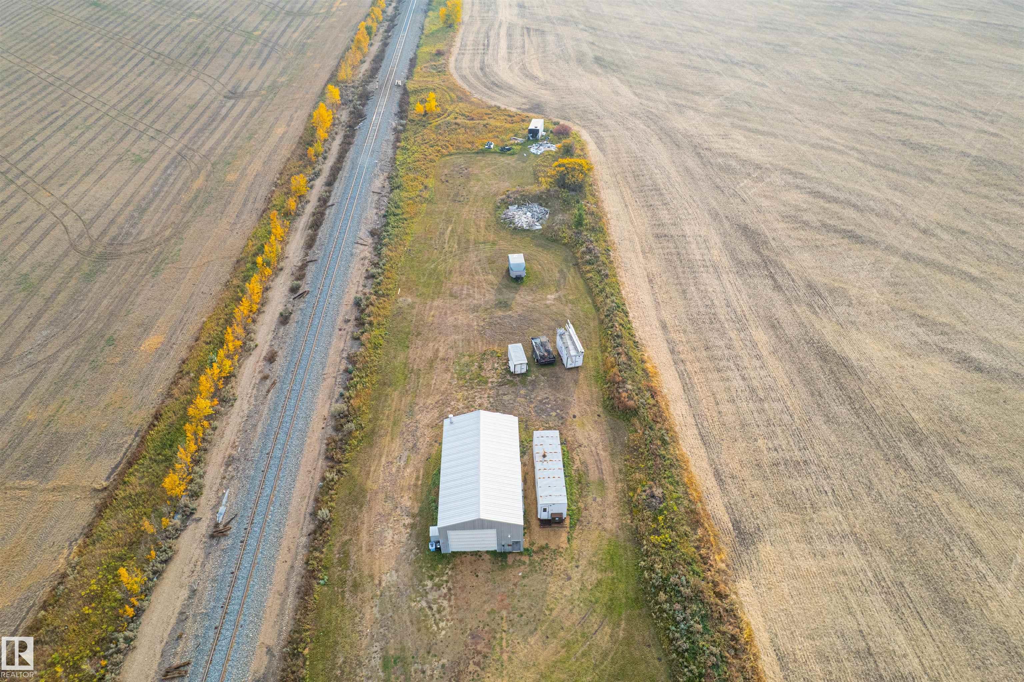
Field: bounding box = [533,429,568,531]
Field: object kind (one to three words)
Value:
trailer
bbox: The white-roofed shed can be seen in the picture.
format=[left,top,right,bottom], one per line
[430,408,530,555]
